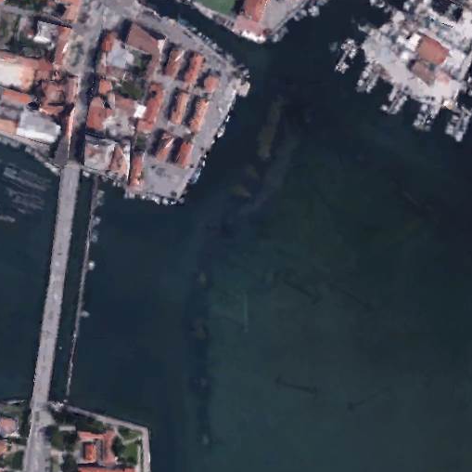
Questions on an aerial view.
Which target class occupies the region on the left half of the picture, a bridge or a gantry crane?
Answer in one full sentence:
There is a bridge on the left half of the picture.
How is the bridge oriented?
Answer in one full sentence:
Seen from above, the bridge lies up and down.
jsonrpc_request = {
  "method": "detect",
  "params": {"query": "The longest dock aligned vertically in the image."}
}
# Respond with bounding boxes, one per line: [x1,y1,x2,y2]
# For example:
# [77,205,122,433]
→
[66,178,96,401]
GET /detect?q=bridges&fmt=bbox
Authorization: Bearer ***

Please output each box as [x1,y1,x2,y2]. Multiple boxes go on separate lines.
[30,162,79,404]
